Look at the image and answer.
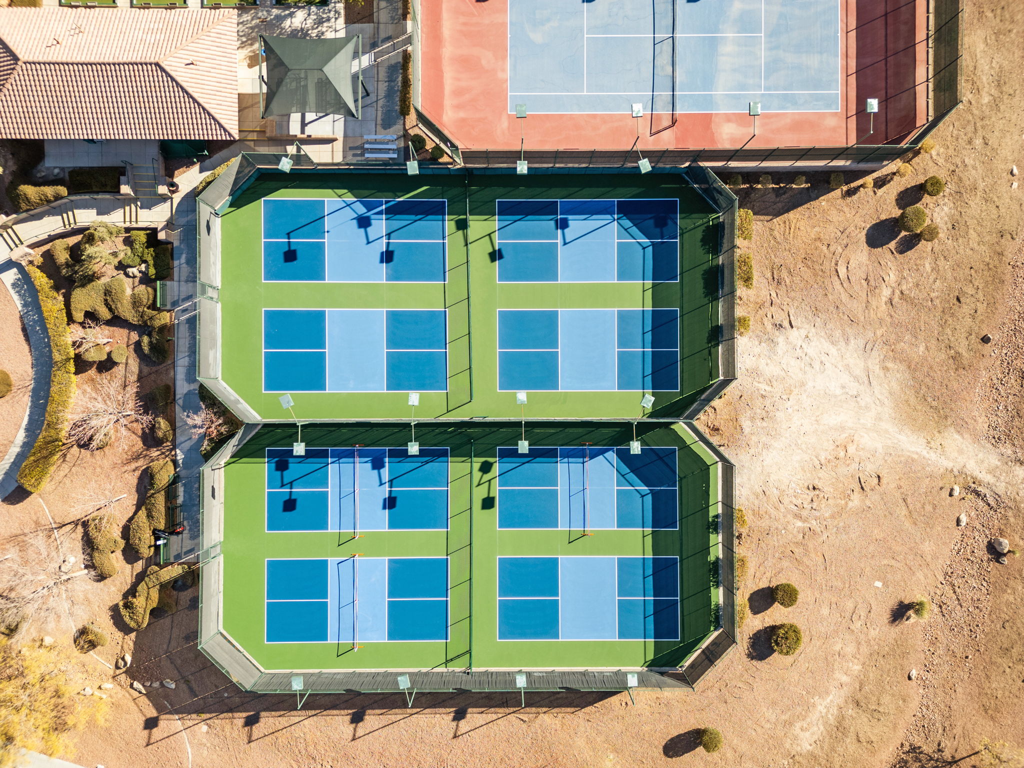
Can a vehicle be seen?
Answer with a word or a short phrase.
No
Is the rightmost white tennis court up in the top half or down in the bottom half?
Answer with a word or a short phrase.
top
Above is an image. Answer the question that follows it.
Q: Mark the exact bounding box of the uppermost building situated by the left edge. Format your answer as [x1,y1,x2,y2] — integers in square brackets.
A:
[0,4,239,140]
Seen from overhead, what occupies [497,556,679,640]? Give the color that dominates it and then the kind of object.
blue sports court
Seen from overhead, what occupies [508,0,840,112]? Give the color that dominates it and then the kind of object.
white tennis court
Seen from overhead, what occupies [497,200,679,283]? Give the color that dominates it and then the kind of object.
blue sports court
